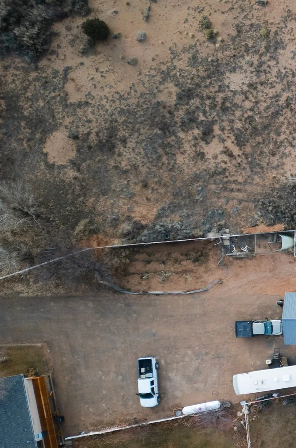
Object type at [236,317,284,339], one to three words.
truck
